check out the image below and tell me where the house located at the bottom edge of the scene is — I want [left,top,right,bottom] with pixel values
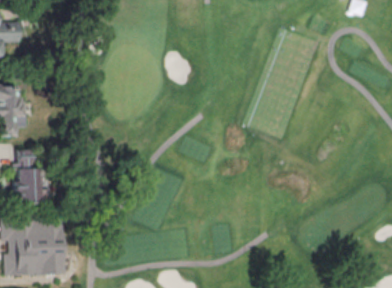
[0,220,66,276]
